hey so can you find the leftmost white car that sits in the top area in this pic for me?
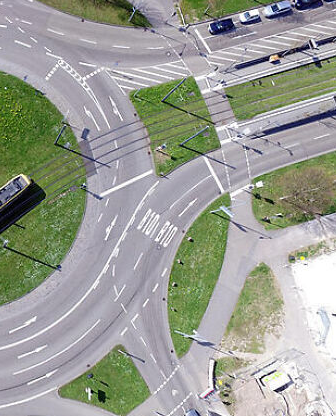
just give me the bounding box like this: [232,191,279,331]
[236,8,263,26]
